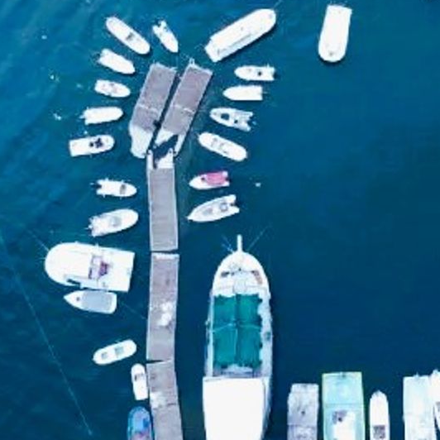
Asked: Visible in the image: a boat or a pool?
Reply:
boat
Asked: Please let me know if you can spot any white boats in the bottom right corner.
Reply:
Yes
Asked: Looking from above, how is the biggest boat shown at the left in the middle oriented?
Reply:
horizontally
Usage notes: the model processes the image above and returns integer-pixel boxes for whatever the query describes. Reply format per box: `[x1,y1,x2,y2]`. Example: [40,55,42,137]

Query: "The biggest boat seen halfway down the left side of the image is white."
[42,241,139,292]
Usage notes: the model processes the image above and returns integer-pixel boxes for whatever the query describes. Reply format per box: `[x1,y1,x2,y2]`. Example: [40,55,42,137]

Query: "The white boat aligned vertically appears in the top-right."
[320,1,349,62]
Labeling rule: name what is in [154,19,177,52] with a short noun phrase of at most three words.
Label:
boat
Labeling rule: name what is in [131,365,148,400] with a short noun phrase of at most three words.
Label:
boat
